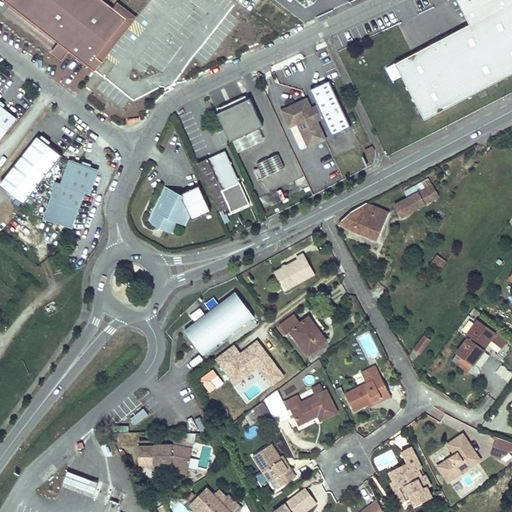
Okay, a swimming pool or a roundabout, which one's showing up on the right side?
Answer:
swimming pool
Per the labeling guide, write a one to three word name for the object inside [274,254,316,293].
house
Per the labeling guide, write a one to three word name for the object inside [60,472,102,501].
shed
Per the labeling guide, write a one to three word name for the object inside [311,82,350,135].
building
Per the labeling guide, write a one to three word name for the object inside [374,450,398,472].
swimming pool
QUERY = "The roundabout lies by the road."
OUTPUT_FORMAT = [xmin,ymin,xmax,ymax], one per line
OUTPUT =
[90,246,172,326]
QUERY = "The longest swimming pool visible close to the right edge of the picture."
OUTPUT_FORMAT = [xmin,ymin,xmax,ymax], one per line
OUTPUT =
[451,466,488,498]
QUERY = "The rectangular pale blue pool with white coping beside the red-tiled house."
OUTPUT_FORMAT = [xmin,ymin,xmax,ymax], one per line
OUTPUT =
[356,331,381,364]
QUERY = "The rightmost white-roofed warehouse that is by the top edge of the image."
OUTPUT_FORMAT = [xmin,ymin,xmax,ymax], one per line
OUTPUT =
[395,0,512,122]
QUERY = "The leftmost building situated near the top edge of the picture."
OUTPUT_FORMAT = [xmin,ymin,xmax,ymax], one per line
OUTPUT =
[6,0,137,69]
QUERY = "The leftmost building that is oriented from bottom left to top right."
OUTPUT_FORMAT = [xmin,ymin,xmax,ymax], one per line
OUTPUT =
[0,136,60,204]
